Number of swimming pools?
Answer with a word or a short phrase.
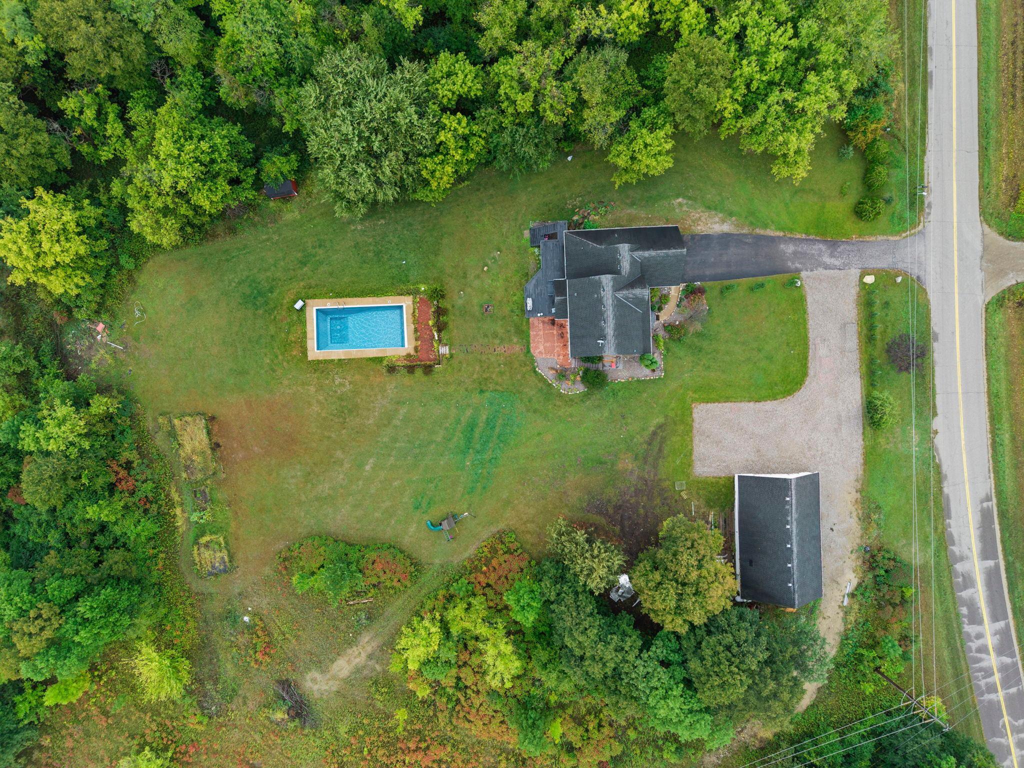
one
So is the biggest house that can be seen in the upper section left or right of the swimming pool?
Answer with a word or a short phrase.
to the right of it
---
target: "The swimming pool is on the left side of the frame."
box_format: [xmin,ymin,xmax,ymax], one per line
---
[305,296,415,360]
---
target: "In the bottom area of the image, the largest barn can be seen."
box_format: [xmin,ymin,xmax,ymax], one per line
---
[734,472,824,608]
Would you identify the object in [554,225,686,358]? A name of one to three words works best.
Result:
house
